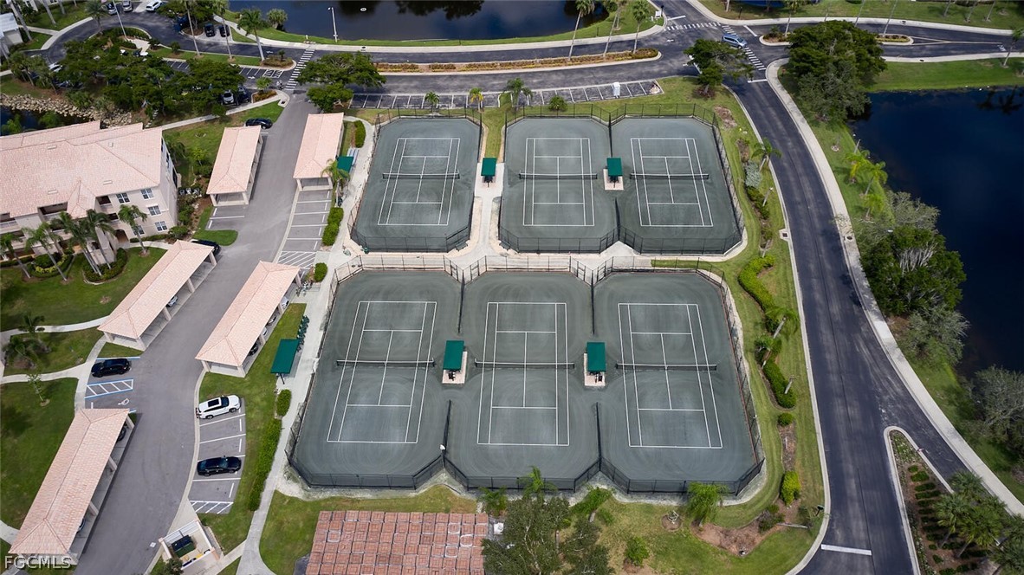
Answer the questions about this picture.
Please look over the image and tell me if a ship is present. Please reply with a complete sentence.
No, there is no ship in the image.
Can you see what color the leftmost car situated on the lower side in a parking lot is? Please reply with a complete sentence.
From above, the leftmost car situated on the lower side in a parking lot appears black.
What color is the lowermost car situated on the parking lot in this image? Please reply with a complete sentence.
From above, the lowermost car situated on the parking lot appears black.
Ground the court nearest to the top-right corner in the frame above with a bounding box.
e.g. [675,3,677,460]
[611,118,740,253]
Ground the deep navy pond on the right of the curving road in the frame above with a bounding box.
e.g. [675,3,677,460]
[848,87,1024,425]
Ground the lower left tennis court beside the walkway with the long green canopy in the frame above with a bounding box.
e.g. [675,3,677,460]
[291,271,461,489]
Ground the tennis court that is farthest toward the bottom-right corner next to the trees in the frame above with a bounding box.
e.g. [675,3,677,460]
[593,273,759,494]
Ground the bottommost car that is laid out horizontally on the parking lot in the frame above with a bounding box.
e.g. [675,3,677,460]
[198,455,242,478]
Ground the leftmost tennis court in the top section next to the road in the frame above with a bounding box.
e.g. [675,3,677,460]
[351,118,479,251]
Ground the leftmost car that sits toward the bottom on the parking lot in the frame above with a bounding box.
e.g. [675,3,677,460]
[92,355,130,379]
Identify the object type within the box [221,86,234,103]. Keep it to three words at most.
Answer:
vehicle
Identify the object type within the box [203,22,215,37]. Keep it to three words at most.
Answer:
vehicle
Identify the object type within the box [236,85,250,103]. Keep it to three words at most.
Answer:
car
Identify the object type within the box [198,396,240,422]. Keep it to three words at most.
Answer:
car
